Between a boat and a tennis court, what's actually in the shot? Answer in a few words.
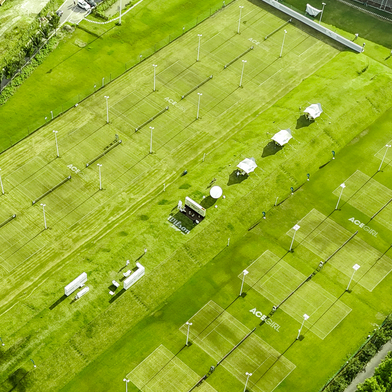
tennis court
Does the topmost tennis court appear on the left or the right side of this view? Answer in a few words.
right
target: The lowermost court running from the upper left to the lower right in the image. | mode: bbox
[179,300,297,392]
